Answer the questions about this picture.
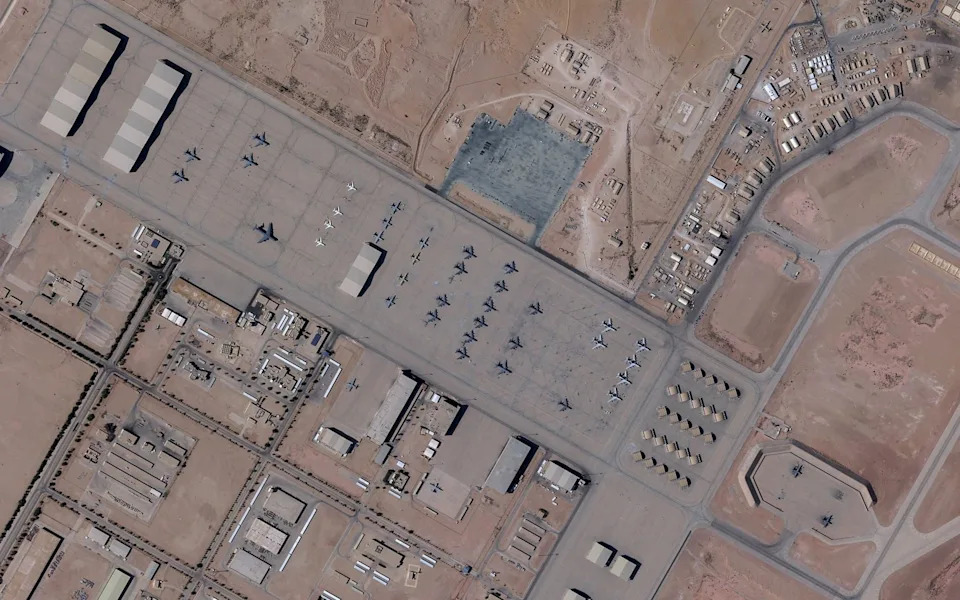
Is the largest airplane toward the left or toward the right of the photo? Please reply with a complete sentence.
The largest airplane appears in the left half of the scene.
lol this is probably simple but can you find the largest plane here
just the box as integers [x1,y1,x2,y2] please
[253,222,277,242]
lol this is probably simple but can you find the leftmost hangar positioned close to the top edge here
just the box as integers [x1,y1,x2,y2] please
[40,24,121,137]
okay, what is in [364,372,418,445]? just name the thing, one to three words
hangar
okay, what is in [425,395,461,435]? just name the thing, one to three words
building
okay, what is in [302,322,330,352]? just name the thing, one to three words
building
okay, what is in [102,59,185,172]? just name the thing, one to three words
hangar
